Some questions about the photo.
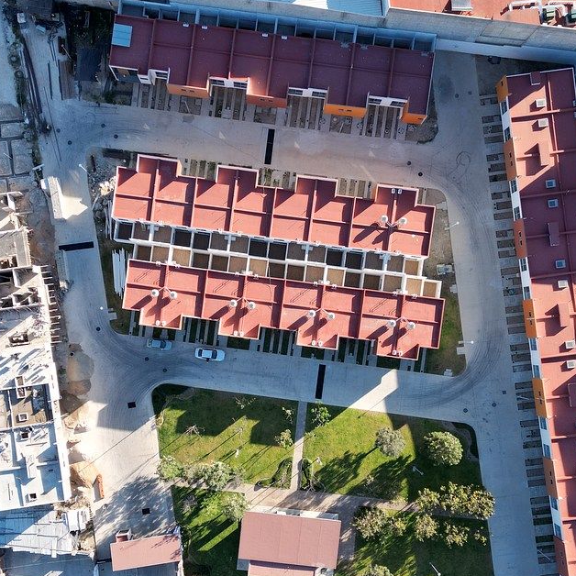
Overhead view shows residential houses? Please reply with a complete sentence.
Yes, you can see a residential house in this photo.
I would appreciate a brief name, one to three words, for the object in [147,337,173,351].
vehicle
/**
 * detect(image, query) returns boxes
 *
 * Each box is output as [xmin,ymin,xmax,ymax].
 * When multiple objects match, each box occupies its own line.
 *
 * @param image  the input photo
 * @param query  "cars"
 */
[147,337,173,351]
[196,347,226,361]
